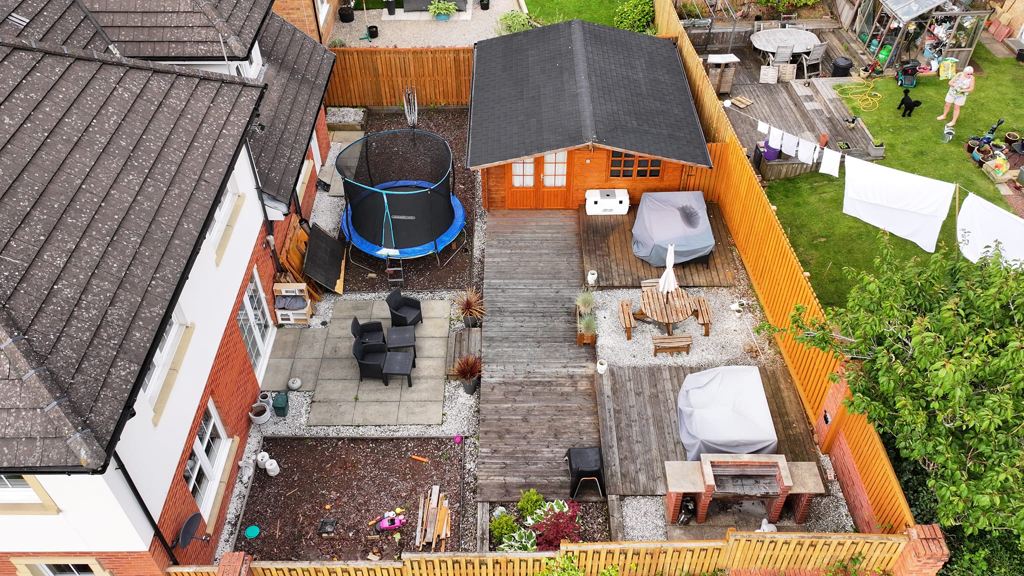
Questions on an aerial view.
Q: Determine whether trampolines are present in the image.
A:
Yes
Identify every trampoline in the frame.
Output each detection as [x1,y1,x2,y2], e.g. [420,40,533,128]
[335,132,467,276]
